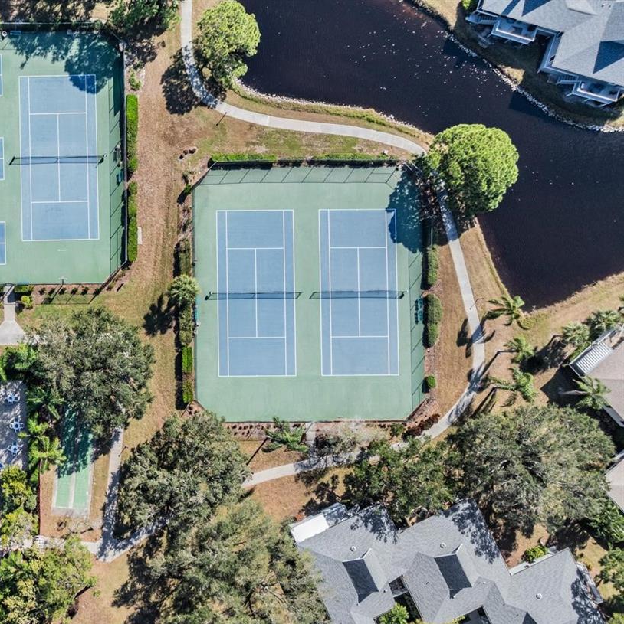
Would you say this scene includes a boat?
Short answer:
No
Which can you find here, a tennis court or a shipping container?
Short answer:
tennis court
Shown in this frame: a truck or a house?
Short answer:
house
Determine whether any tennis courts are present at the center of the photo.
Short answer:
Yes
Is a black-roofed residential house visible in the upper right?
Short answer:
No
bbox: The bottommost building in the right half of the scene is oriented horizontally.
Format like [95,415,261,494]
[291,499,607,624]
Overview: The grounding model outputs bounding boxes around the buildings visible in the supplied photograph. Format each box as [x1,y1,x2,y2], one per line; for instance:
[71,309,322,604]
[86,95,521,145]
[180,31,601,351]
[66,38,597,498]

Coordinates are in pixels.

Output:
[559,328,624,443]
[464,0,624,108]
[291,499,607,624]
[596,443,624,504]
